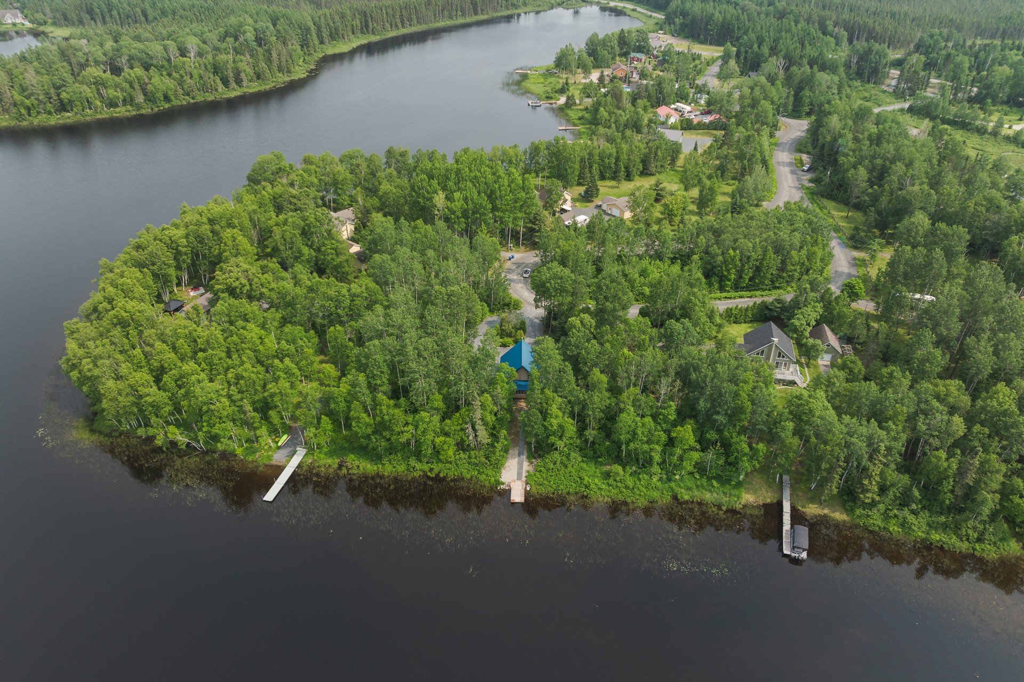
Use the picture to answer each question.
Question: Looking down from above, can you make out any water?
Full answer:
Yes, some water is visible.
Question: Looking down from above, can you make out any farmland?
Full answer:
No, the scene doesn't show any farmland.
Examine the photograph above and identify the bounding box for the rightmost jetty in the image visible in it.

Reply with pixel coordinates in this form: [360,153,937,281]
[780,473,792,555]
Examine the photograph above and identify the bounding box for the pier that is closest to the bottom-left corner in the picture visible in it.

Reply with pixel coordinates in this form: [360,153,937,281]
[264,453,305,501]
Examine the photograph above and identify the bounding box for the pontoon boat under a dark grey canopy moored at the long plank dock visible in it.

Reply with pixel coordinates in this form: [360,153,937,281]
[790,517,809,556]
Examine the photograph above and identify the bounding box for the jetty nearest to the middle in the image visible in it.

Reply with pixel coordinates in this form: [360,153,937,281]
[509,481,526,505]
